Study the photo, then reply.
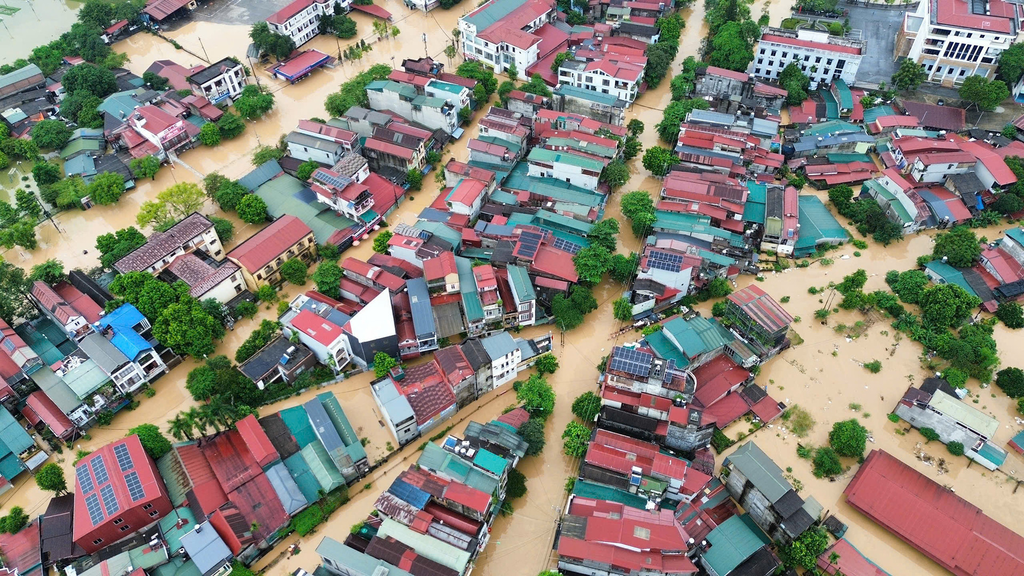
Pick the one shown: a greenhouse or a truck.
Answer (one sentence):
There is a greenhouse in the scene.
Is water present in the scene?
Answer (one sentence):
Yes, some water is visible.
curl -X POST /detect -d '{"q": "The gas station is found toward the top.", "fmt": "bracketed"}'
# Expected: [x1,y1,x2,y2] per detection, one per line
[266,48,338,92]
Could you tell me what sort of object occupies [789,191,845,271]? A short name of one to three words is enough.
building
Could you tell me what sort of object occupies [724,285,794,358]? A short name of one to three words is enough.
greenhouse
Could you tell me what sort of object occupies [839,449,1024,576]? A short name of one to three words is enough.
warehouse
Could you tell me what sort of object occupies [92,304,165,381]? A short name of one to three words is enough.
house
